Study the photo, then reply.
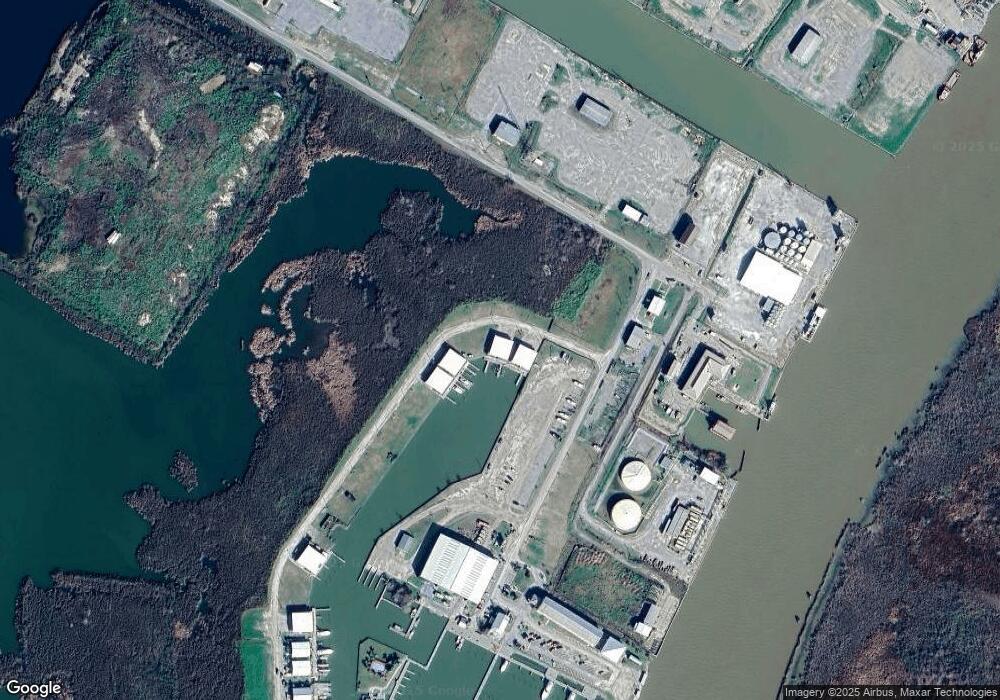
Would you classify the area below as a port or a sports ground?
port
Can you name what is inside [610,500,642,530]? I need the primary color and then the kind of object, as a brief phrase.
white storage tank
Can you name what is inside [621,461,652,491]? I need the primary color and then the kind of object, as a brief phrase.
white storage tank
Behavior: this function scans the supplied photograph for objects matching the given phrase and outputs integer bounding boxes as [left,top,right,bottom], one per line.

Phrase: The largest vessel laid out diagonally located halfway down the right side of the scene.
[799,302,830,344]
